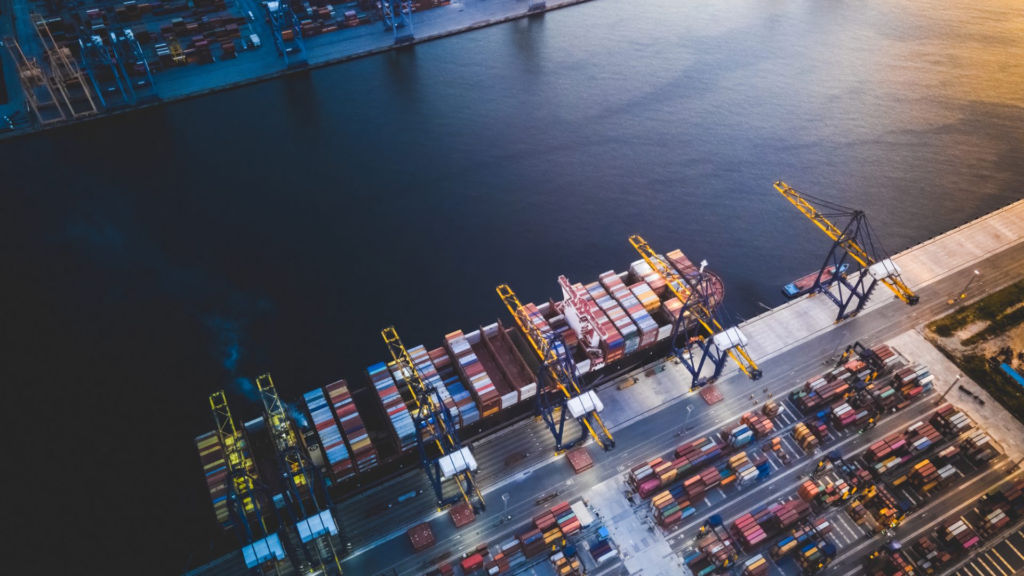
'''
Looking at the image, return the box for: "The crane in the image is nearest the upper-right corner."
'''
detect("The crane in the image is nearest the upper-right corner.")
[775,182,919,323]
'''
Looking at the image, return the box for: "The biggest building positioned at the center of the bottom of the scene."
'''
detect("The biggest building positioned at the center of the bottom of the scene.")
[566,494,594,528]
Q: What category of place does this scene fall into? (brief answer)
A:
port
